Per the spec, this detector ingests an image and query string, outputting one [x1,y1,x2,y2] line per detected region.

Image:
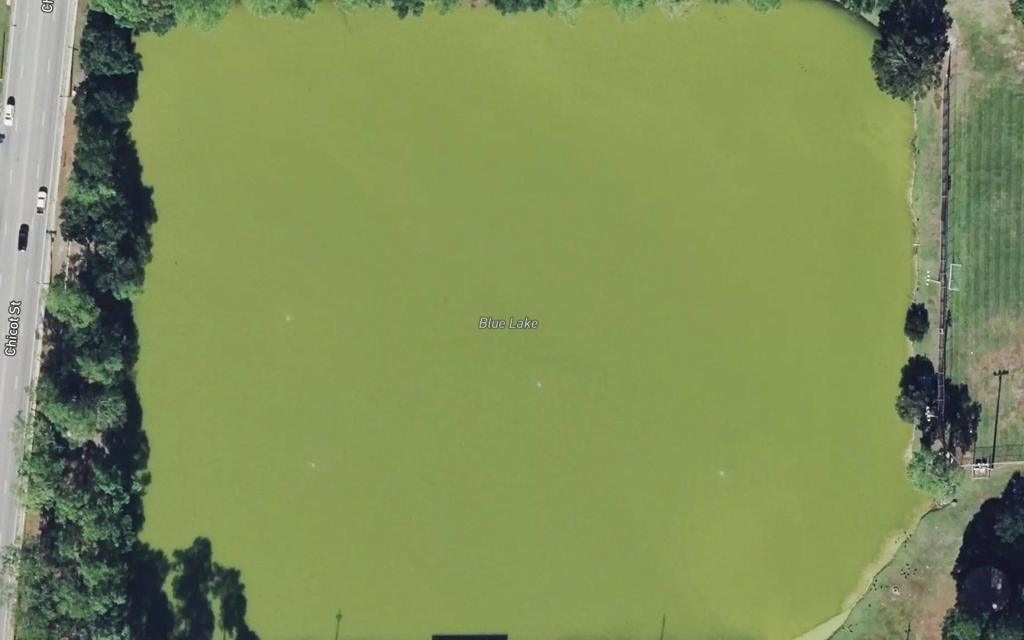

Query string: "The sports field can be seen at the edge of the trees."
[951,0,1024,465]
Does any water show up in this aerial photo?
Yes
